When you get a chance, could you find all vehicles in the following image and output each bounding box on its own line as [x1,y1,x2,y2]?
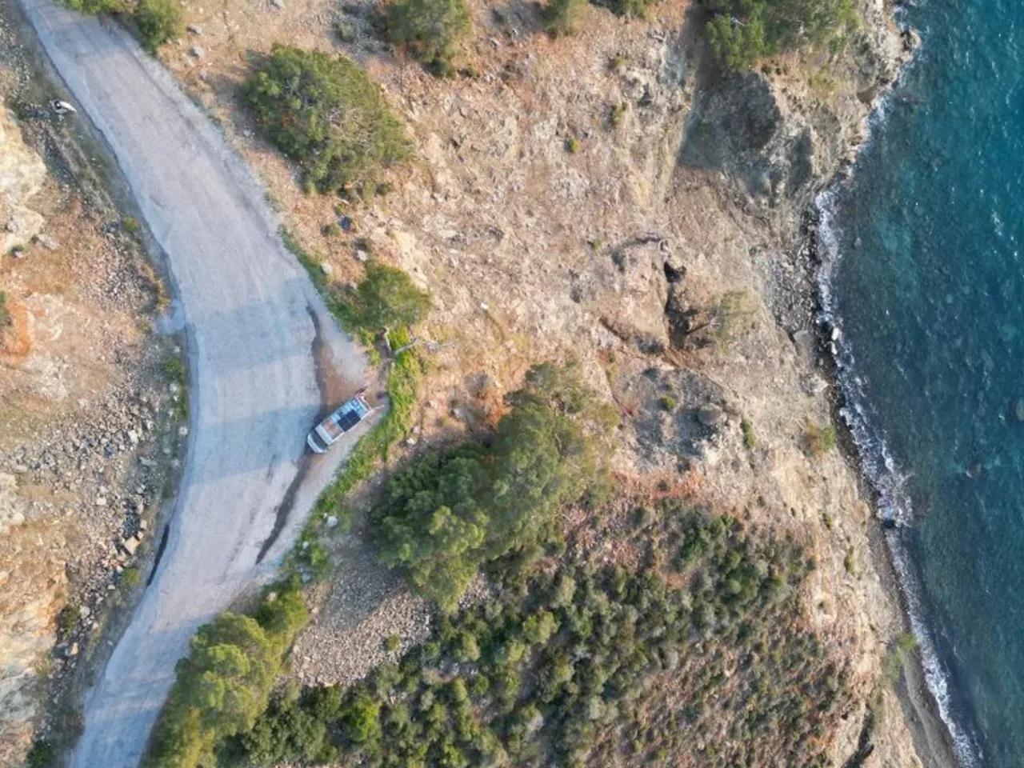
[312,387,386,452]
[48,95,72,113]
